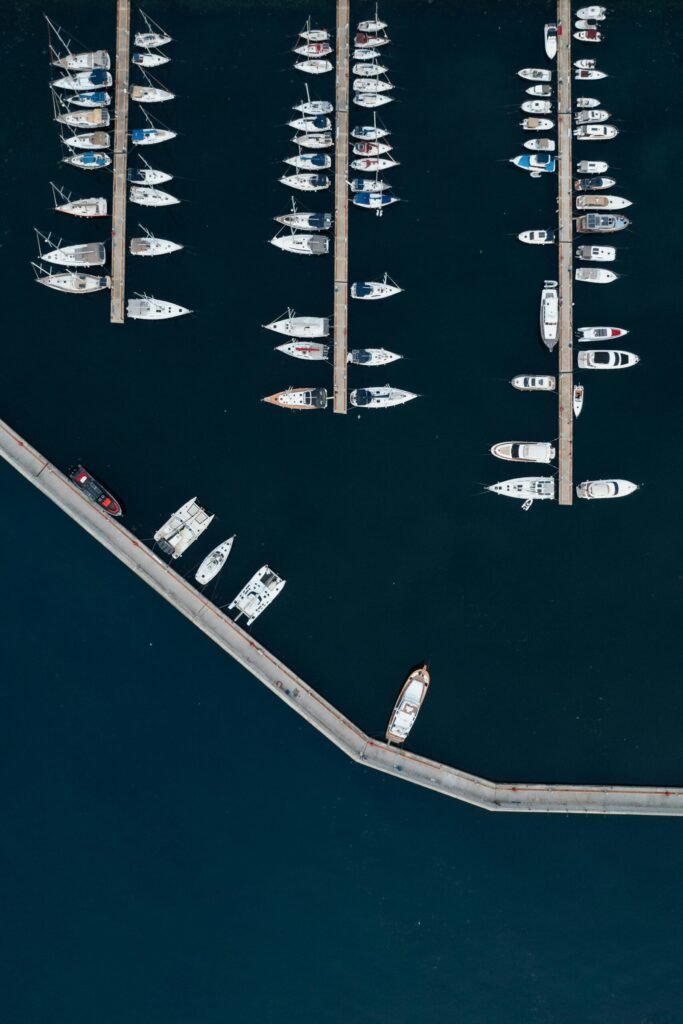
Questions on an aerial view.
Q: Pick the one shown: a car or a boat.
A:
boat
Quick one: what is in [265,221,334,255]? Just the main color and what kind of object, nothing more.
white boat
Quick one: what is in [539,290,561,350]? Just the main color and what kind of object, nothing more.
white boat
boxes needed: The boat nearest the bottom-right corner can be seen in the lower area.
[384,655,429,753]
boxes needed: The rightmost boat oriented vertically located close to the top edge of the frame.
[543,25,558,60]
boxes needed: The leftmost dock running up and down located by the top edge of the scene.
[111,0,131,324]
